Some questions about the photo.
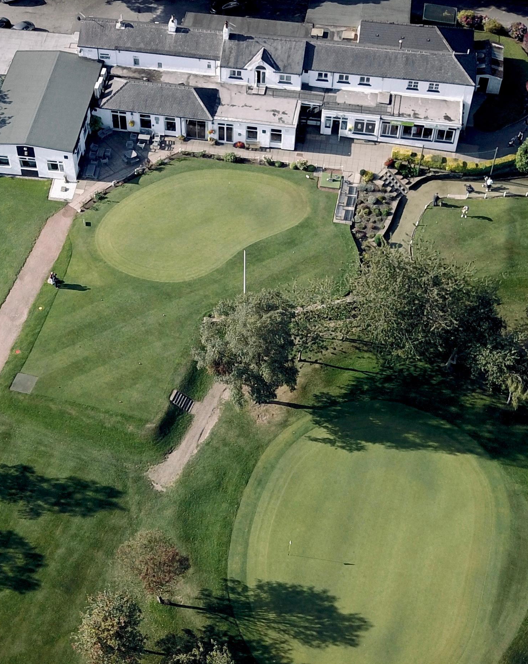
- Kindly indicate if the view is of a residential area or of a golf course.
golf course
